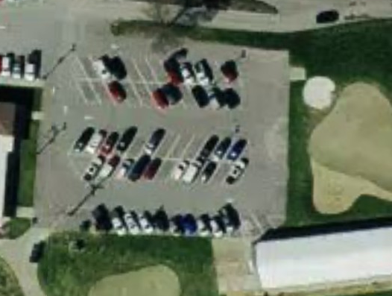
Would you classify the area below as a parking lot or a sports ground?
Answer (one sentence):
It's a parking lot.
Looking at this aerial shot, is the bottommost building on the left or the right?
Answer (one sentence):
You can find the bottommost building on the right side of the picture.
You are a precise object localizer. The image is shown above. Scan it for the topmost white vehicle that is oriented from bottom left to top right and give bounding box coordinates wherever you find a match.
[86,132,105,154]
